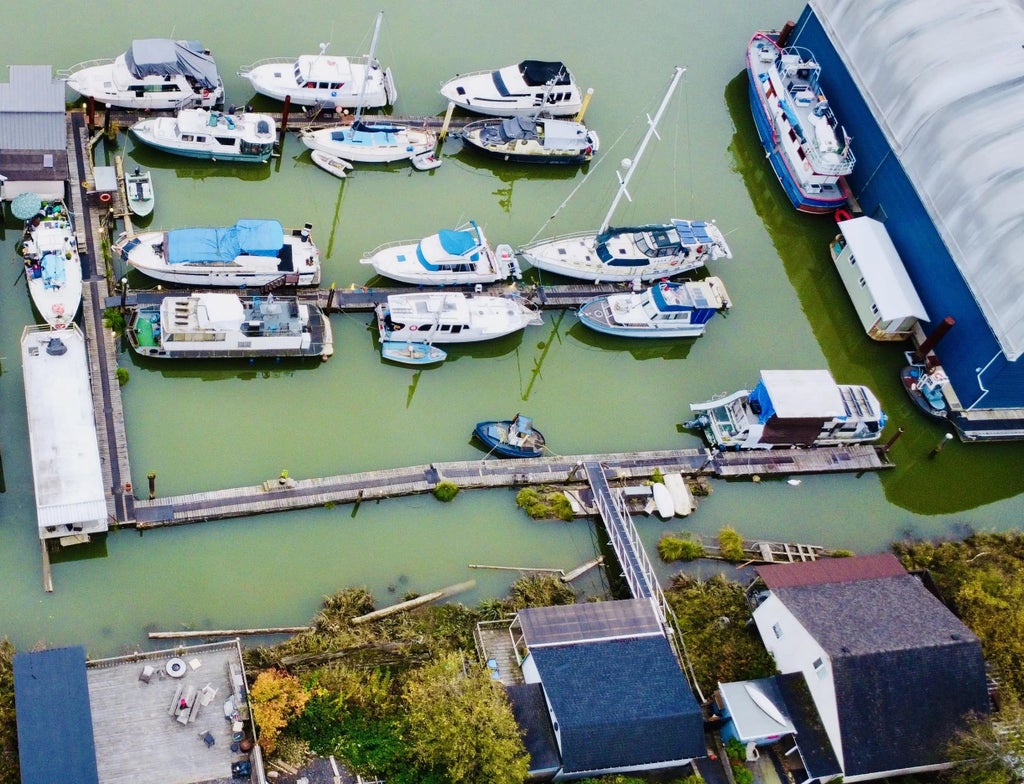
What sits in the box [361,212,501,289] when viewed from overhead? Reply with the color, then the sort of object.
white boat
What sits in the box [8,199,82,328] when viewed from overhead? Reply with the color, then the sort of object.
white boat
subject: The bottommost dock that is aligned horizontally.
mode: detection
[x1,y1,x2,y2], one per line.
[701,543,824,565]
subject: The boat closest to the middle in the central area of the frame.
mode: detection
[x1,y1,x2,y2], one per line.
[474,415,545,455]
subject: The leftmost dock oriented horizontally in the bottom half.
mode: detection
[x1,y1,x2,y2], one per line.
[136,462,439,529]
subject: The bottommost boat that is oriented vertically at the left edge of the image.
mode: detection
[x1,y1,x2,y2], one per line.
[22,319,108,570]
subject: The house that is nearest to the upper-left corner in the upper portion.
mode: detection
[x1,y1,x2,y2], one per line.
[0,64,72,216]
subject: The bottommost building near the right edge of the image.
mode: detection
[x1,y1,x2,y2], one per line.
[742,551,988,784]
